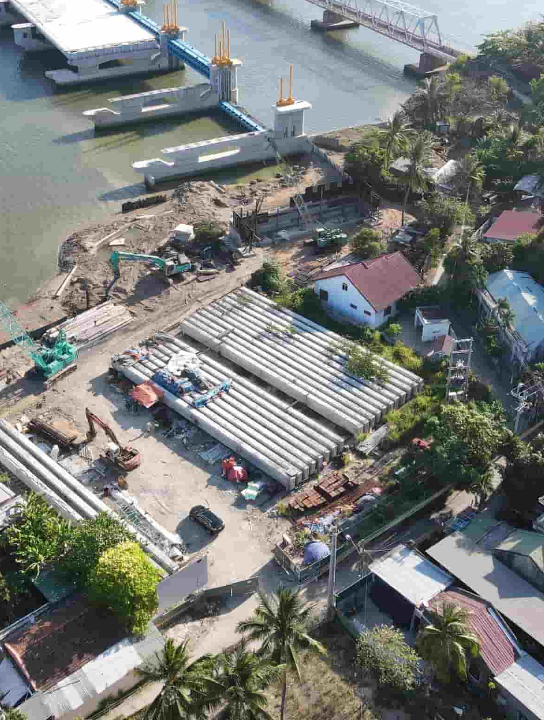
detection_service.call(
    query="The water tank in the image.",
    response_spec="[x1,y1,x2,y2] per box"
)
[304,534,332,563]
